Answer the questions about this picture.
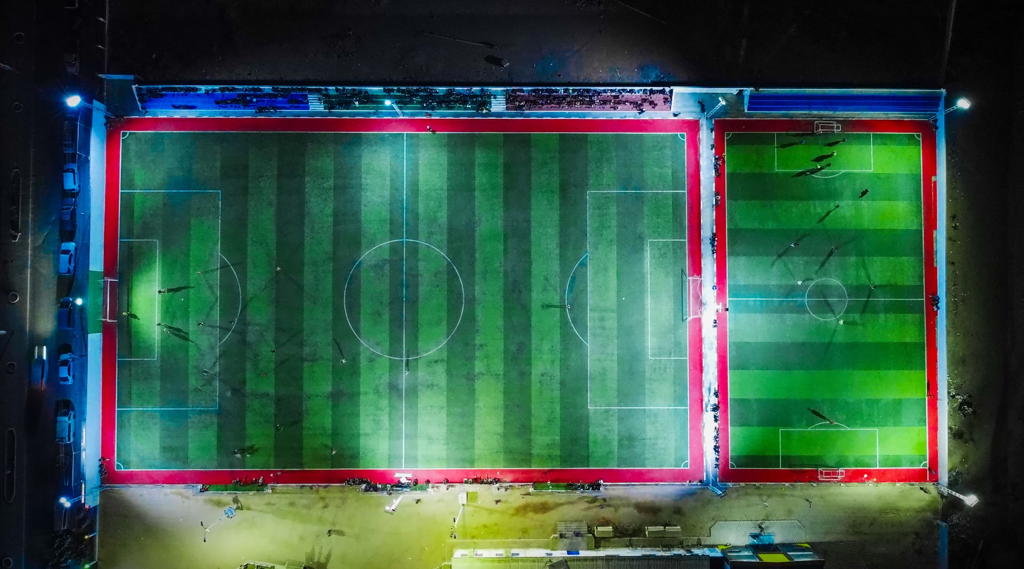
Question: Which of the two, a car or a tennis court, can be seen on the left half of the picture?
car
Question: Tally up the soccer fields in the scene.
two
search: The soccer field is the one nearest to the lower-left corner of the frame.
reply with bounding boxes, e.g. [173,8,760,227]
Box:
[101,118,703,485]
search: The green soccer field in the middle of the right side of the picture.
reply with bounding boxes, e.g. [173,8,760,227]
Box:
[716,119,938,483]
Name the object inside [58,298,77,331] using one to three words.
car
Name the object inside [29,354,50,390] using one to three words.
car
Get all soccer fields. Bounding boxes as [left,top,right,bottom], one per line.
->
[716,119,938,483]
[101,118,703,485]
